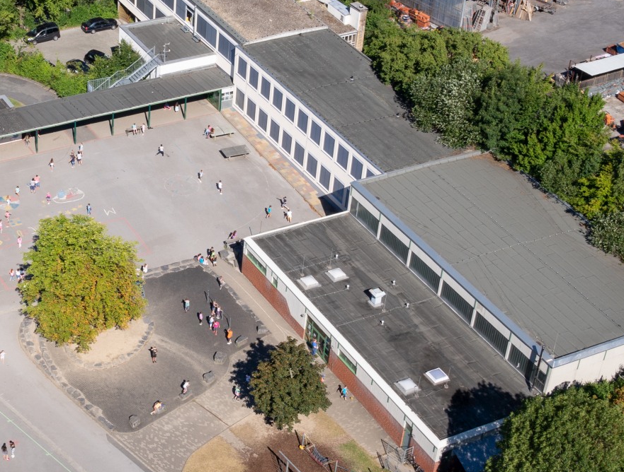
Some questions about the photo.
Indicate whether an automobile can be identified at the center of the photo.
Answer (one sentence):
No, looking at the center of the photo, there is no automobile.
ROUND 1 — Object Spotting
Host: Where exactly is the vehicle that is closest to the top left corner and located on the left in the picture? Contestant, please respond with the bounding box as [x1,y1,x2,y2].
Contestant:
[23,21,64,44]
